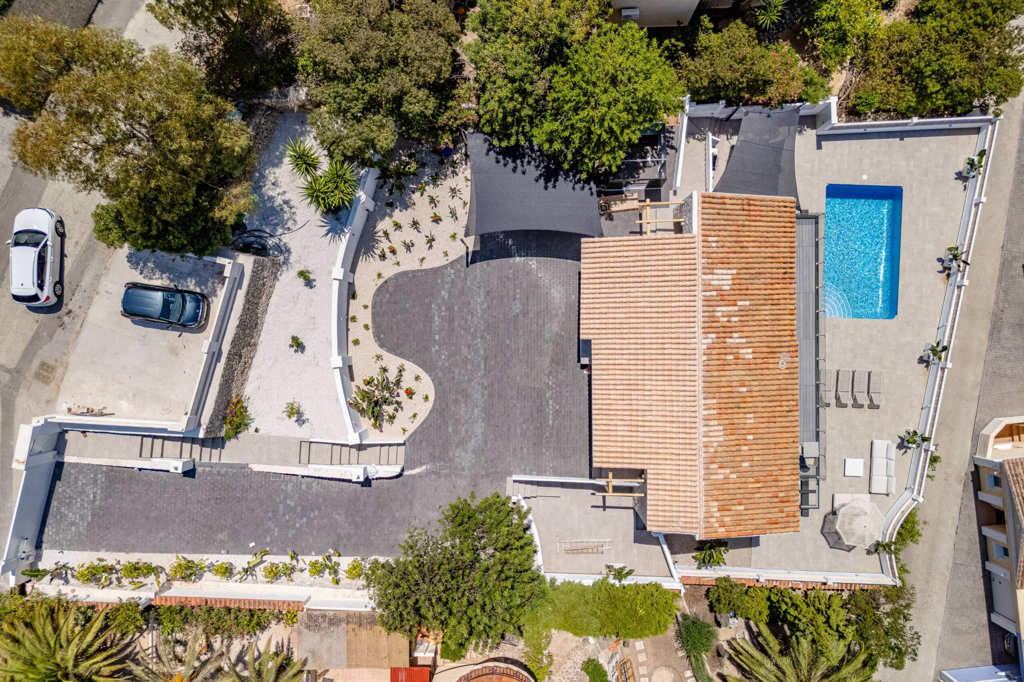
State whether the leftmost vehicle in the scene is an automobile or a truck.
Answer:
automobile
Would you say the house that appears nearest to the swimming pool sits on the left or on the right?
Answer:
right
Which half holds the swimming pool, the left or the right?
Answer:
right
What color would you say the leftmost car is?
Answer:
white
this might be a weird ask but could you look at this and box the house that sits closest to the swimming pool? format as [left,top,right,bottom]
[578,191,818,541]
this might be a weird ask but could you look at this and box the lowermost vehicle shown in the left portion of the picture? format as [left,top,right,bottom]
[120,277,216,328]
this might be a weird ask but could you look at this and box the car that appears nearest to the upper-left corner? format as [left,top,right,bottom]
[2,205,66,307]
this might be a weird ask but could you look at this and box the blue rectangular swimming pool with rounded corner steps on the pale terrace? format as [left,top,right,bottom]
[822,184,903,319]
